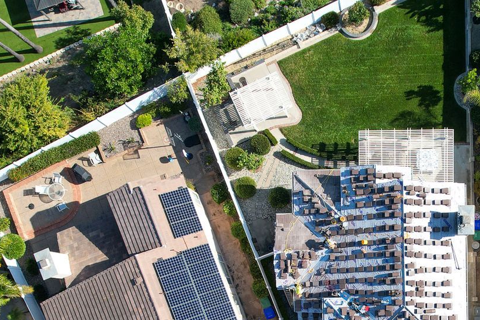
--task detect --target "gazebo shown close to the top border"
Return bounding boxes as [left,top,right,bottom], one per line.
[34,0,92,23]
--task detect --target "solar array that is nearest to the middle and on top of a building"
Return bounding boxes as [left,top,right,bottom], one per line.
[159,188,202,238]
